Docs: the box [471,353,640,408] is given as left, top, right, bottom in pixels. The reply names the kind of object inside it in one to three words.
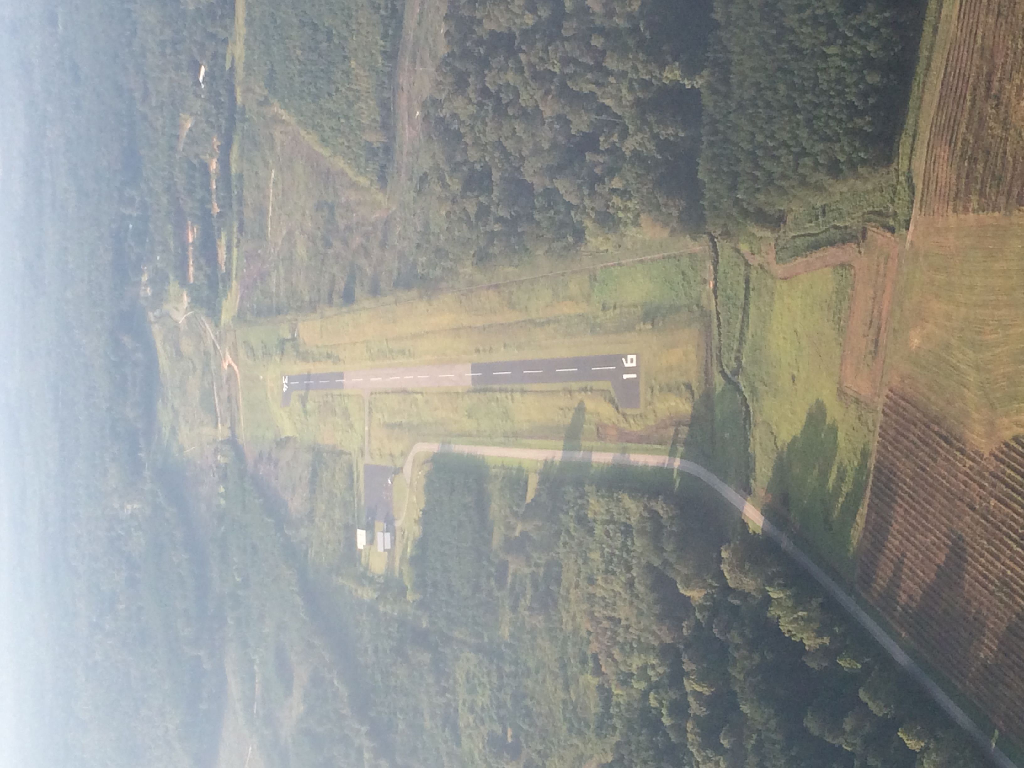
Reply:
runway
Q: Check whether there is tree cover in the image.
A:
Yes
